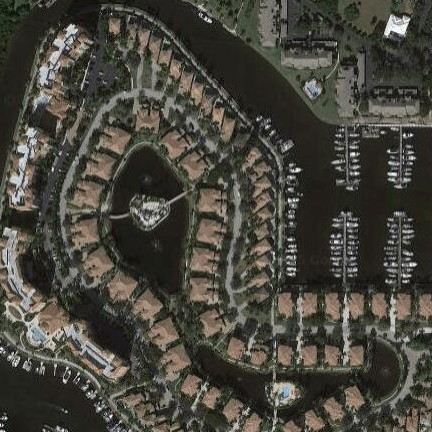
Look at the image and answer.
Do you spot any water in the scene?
Yes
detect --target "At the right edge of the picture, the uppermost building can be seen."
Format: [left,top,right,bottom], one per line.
[384,14,410,38]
